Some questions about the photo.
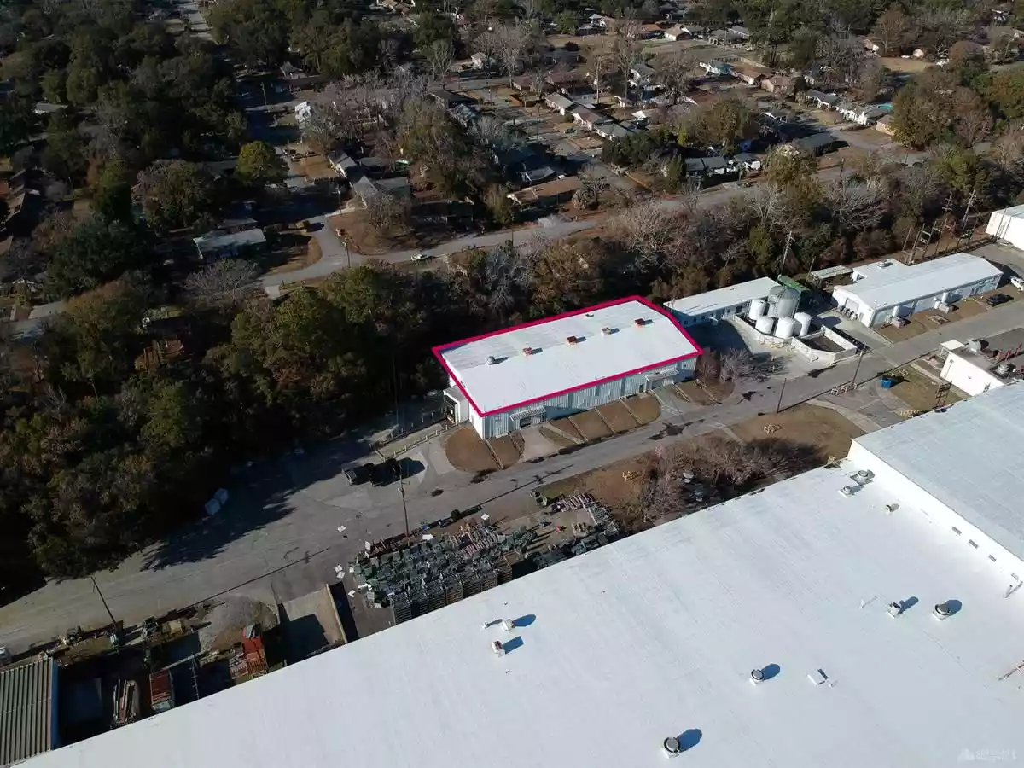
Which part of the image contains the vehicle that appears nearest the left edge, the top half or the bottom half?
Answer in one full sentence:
The vehicle that appears nearest the left edge is in the bottom half of the image.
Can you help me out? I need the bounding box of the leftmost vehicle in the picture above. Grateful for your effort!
[0,638,27,662]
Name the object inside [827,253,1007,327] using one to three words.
building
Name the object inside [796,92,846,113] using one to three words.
house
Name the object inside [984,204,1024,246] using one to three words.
building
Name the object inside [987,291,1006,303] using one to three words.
vehicle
